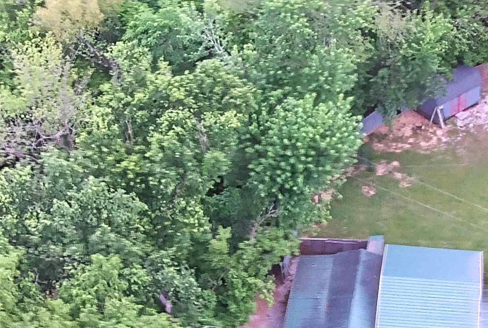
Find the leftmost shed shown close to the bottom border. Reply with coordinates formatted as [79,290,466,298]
[285,248,382,328]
